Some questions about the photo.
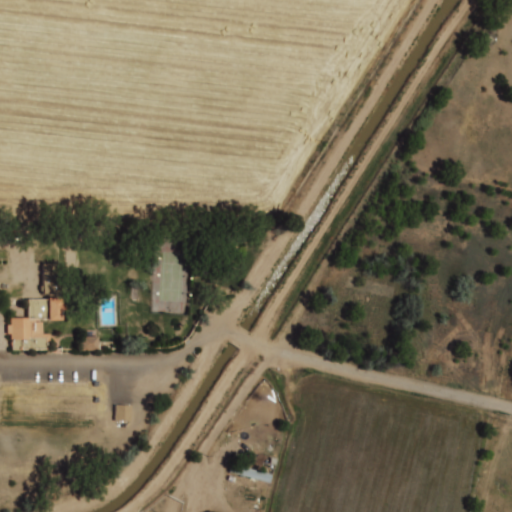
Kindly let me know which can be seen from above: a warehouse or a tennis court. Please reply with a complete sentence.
Looking from above, you can make out a tennis court.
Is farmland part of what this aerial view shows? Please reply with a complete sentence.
Yes, farmland can be seen from above here.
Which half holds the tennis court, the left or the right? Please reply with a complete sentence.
The tennis court appears in the left half of the scene.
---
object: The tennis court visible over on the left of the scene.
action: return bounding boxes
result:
[152,240,188,313]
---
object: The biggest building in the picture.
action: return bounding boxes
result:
[6,299,64,350]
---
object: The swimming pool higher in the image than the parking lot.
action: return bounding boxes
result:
[101,298,116,326]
